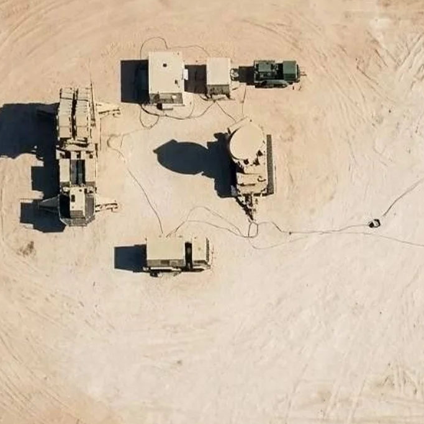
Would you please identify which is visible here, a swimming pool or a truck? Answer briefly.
truck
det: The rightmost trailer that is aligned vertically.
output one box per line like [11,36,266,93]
[226,117,275,220]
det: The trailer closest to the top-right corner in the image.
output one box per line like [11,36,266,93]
[254,58,307,87]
